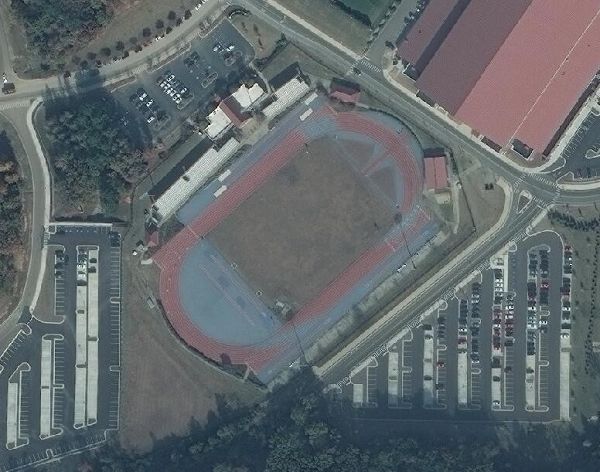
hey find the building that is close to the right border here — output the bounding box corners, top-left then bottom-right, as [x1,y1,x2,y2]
[395,0,600,160]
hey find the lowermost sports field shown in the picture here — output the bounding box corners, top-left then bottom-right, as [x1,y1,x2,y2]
[205,136,396,324]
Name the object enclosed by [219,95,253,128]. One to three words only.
building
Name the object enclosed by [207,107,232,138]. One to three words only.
building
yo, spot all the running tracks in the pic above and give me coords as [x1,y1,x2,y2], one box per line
[152,93,442,381]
